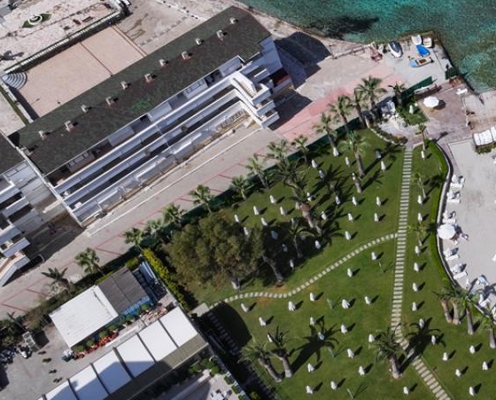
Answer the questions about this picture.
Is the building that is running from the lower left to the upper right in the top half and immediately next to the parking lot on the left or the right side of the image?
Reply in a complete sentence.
The building that is running from the lower left to the upper right in the top half and immediately next to the parking lot appears in the left half of the scene.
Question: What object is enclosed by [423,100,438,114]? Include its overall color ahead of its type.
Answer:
white umbrella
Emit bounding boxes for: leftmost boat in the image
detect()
[386,37,403,57]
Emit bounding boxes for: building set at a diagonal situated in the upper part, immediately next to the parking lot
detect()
[8,7,291,228]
